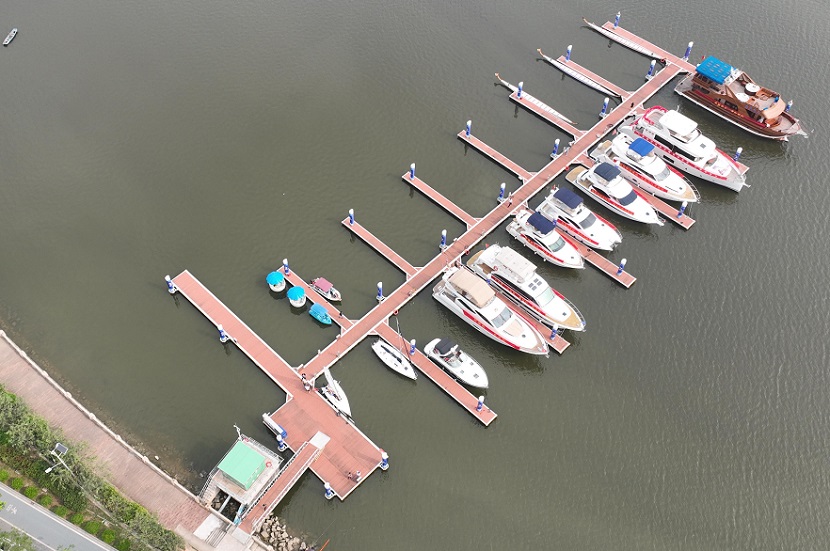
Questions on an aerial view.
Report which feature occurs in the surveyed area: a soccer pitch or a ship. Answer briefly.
ship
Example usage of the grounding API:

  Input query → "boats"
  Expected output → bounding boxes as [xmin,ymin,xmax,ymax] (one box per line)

[524,179,622,253]
[612,94,748,190]
[585,126,704,205]
[310,276,339,303]
[370,319,419,379]
[268,274,286,293]
[498,211,590,274]
[494,70,580,126]
[558,154,669,227]
[582,13,665,64]
[425,338,489,390]
[318,361,355,416]
[306,301,331,327]
[536,45,621,100]
[288,288,306,308]
[457,243,588,335]
[2,28,17,46]
[422,265,550,362]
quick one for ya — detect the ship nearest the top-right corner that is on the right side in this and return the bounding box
[672,53,809,139]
